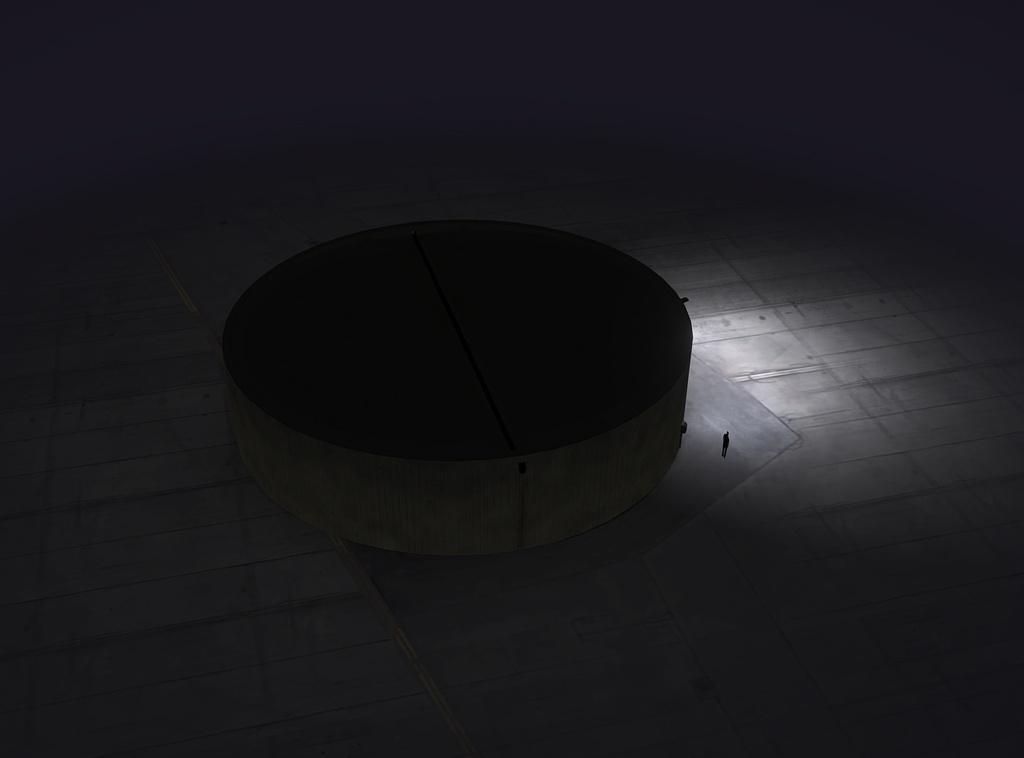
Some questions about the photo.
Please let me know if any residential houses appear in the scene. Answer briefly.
No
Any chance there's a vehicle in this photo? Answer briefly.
No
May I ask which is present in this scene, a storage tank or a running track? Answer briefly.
storage tank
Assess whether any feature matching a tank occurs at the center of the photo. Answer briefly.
Yes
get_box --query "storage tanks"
[222,221,693,555]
